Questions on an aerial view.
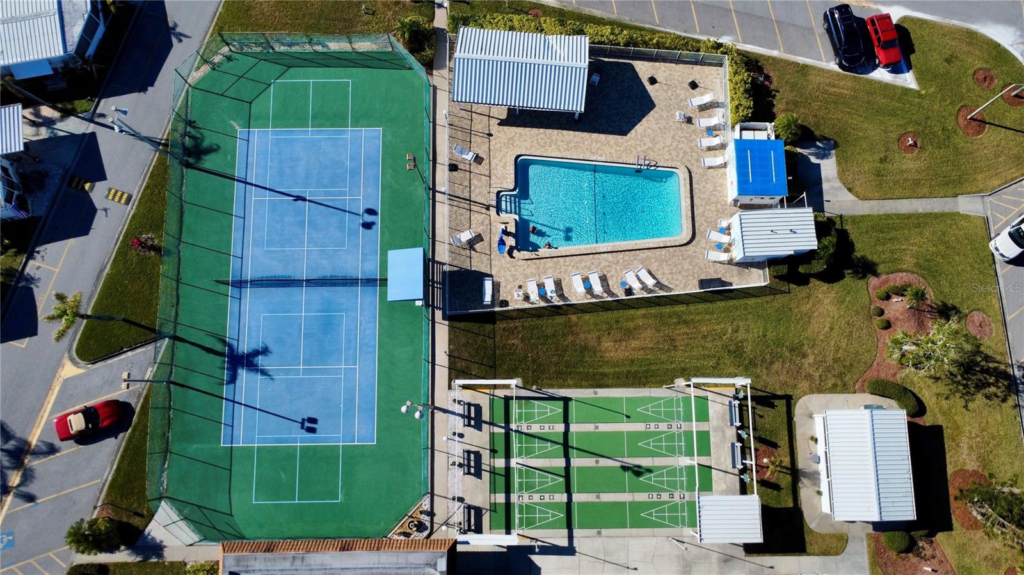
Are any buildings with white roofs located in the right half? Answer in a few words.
Yes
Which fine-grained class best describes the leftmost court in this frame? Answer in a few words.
tennis court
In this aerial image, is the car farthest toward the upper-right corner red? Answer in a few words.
Yes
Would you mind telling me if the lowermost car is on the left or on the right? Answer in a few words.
left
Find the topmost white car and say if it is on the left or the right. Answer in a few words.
right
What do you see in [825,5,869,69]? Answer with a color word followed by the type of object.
black car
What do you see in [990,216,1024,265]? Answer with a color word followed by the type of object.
white car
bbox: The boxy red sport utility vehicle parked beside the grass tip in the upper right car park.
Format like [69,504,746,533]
[869,6,910,67]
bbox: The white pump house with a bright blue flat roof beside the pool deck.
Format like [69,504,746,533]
[725,139,788,205]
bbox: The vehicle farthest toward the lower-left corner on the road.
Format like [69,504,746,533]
[50,403,125,444]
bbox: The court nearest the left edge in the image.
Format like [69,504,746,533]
[166,51,430,539]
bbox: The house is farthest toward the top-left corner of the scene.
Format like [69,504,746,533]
[0,0,108,93]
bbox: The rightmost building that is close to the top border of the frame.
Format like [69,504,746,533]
[452,26,588,114]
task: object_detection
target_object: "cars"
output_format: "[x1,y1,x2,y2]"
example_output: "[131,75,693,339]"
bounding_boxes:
[50,403,125,444]
[869,6,910,67]
[990,216,1024,265]
[825,5,869,69]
